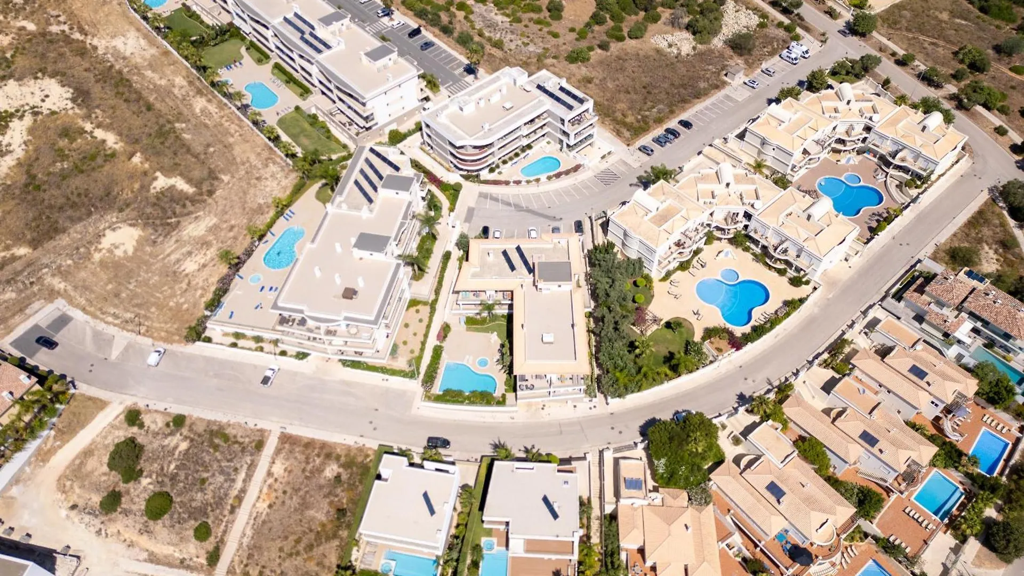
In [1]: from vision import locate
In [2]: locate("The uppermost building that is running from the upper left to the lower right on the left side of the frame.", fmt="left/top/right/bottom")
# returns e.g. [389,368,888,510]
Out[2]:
[208,0,427,142]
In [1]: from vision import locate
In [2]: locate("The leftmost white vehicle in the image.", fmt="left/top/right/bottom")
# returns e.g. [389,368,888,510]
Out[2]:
[143,345,167,367]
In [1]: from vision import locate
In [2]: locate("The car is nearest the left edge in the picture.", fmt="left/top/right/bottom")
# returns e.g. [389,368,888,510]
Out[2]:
[34,335,60,350]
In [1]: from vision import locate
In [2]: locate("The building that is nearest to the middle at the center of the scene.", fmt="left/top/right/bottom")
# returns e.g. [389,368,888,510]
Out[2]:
[451,234,591,406]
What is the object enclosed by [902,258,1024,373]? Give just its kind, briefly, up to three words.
house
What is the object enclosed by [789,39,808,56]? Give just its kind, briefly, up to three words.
vehicle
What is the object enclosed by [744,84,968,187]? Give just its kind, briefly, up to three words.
building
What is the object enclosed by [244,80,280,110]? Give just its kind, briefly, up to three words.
swimming pool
